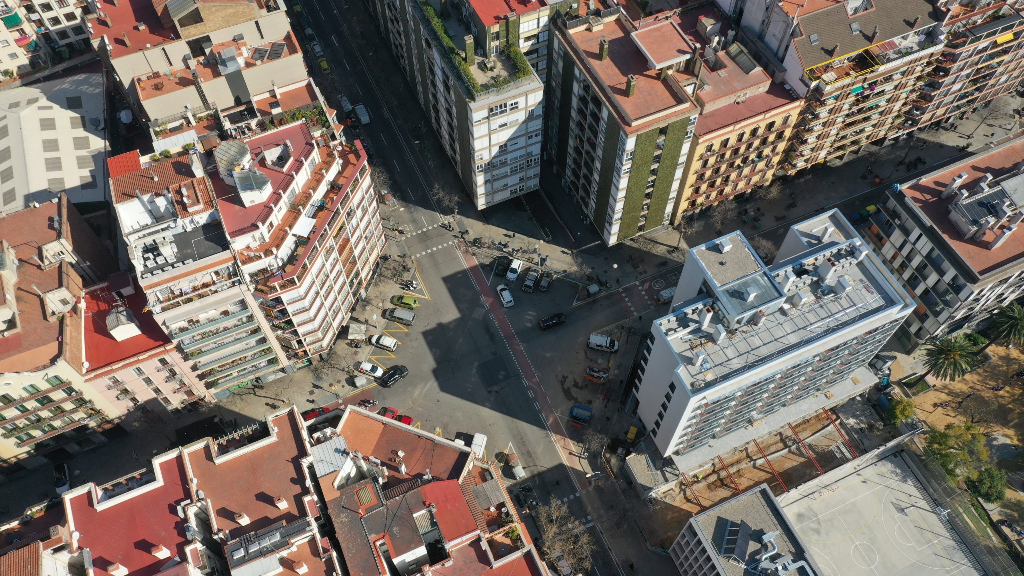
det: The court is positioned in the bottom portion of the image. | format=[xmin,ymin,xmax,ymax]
[779,450,978,576]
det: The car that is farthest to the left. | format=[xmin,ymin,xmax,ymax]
[54,464,71,494]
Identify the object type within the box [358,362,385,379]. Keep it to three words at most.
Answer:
car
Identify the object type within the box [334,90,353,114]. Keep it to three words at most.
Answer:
vehicle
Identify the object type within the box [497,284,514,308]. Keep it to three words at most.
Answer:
car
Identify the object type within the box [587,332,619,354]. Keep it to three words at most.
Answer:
vehicle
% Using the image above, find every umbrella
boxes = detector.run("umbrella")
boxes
[349,325,366,340]
[118,110,137,126]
